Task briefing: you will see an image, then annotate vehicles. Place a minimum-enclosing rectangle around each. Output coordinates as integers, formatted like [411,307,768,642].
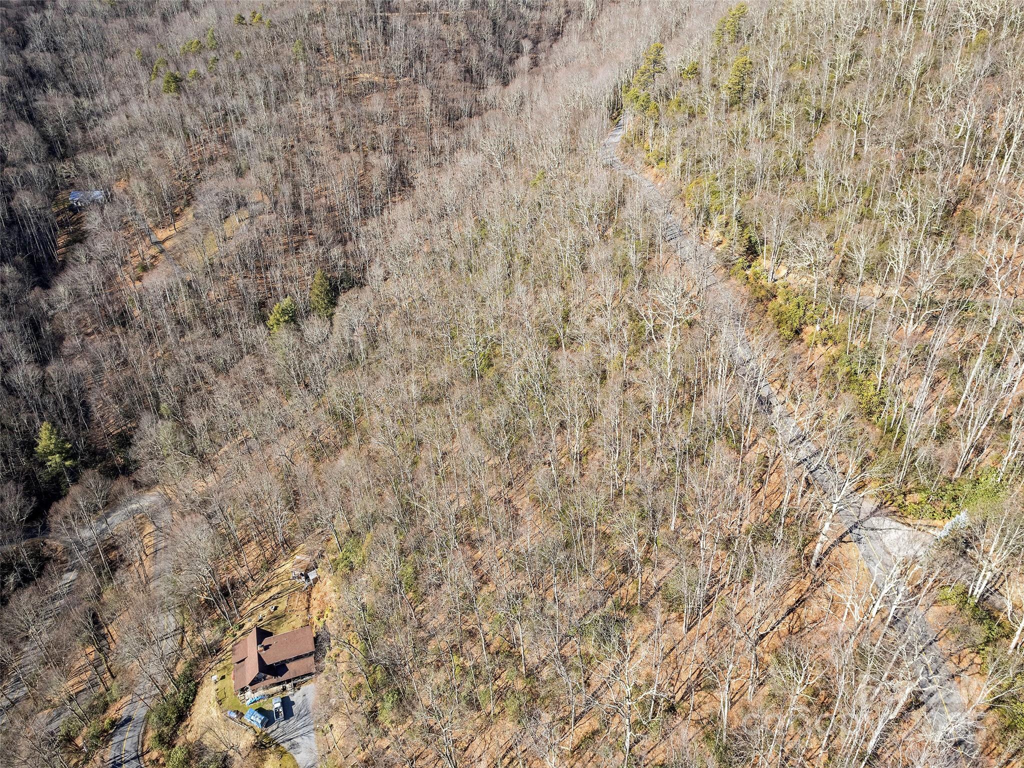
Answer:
[242,704,269,729]
[271,693,288,724]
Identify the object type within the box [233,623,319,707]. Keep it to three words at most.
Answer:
building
